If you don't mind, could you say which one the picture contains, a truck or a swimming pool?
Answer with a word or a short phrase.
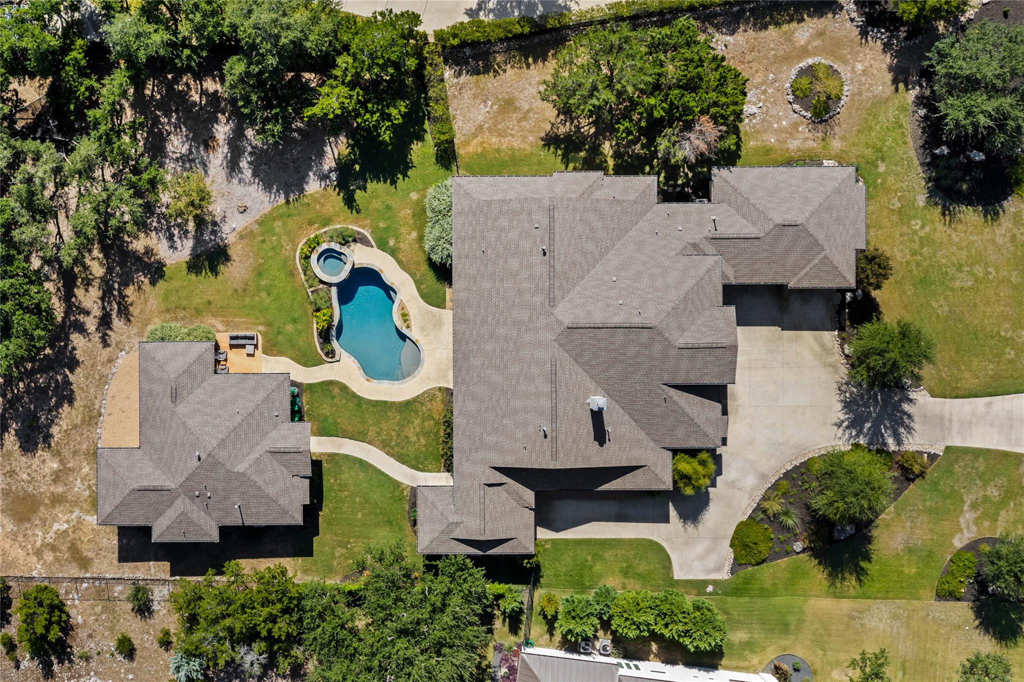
swimming pool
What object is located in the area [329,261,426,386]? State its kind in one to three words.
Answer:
swimming pool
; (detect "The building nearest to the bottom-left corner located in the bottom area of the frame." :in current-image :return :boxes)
[95,341,312,544]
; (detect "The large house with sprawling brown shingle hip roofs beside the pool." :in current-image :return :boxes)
[416,164,867,556]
